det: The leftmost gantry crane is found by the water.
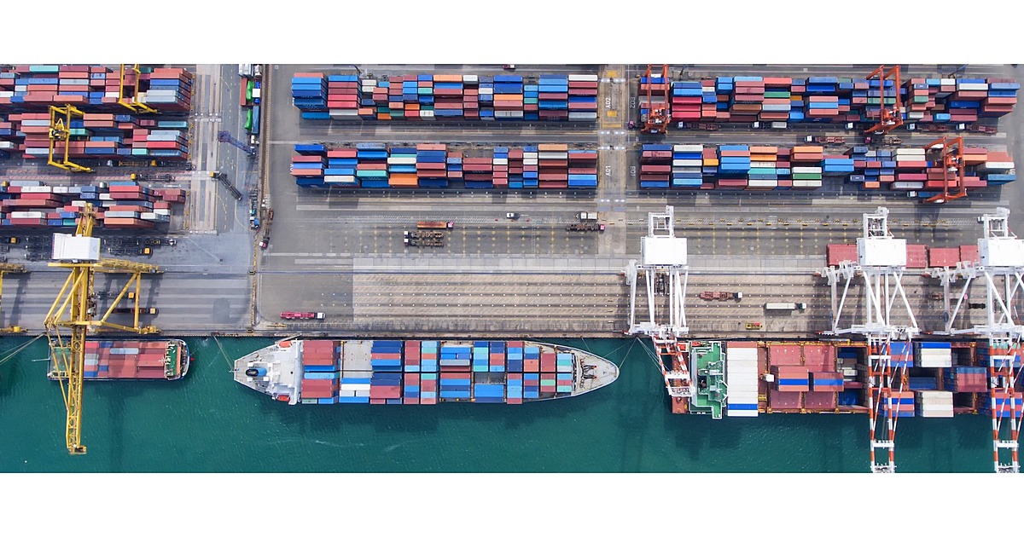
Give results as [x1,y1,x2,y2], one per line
[0,262,45,332]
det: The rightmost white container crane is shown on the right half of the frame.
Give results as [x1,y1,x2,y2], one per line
[924,203,1024,470]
